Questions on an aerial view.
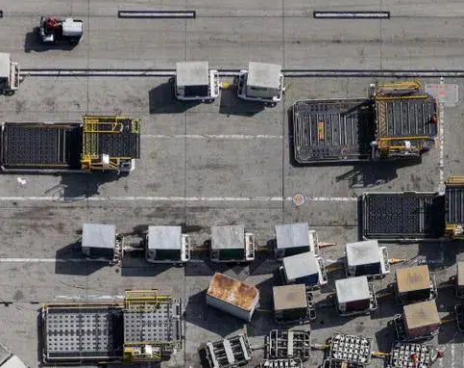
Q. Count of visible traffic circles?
none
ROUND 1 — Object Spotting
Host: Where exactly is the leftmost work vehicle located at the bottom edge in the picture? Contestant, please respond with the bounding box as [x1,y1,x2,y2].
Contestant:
[42,296,182,368]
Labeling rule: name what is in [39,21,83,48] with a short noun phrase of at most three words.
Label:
work vehicle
